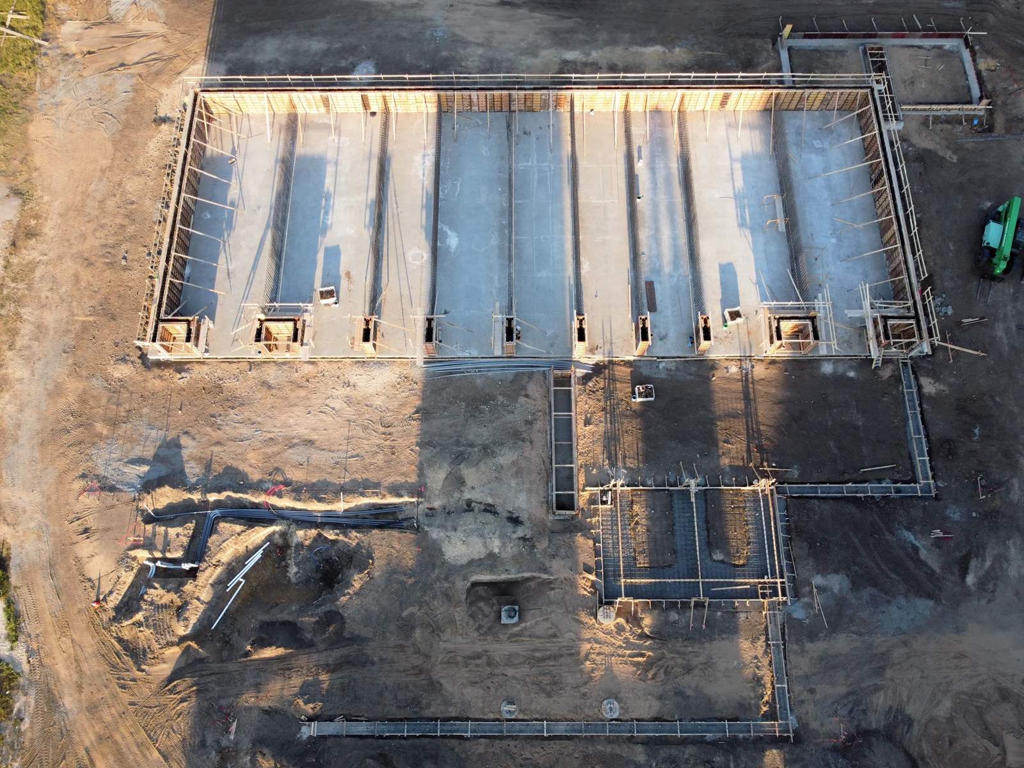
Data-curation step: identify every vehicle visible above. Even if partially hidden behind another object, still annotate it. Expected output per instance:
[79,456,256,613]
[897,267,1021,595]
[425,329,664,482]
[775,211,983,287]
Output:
[971,197,1024,297]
